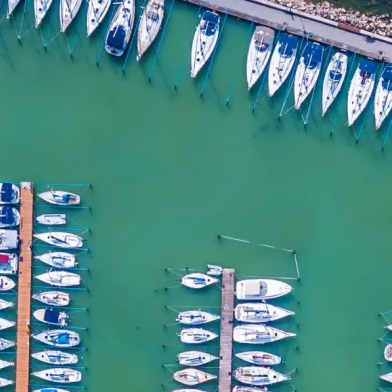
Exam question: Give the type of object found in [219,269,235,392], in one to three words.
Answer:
pier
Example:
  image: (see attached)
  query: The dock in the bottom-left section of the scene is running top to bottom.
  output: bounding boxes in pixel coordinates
[15,182,34,392]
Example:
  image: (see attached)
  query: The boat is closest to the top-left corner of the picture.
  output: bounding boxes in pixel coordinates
[6,0,22,21]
